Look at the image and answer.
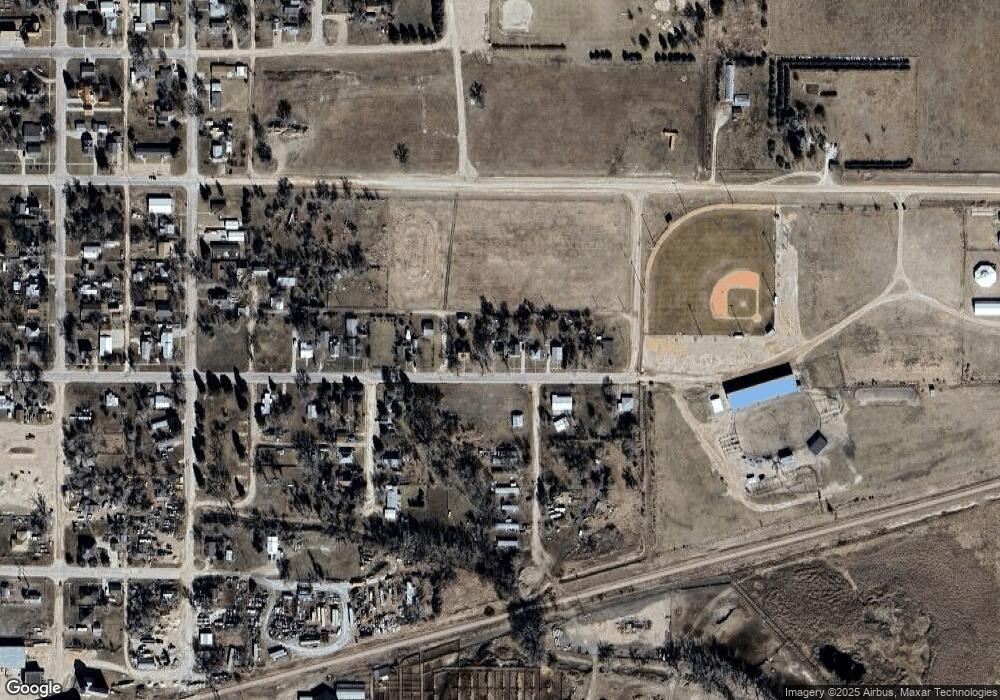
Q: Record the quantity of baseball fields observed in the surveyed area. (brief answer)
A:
1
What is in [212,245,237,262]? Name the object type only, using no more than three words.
house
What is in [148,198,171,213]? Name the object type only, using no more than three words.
barn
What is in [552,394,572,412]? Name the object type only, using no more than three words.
barn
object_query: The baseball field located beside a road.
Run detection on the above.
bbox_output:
[646,204,776,335]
